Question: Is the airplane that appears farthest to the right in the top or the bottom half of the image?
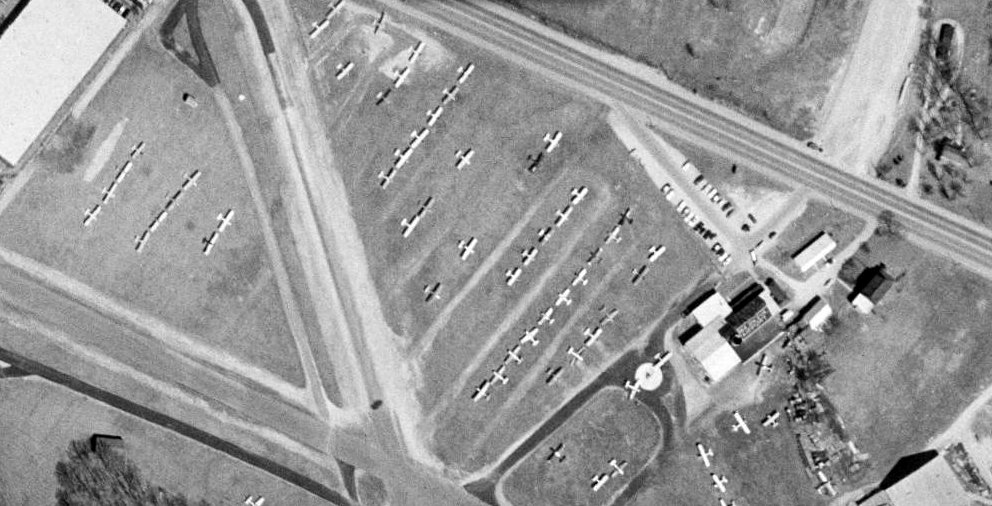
bottom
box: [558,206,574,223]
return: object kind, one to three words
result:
airplane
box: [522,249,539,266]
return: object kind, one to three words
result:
airplane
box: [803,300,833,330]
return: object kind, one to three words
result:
barn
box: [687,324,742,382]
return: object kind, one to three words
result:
hangar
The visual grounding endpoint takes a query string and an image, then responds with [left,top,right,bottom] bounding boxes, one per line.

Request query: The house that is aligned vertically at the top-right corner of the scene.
[938,25,953,58]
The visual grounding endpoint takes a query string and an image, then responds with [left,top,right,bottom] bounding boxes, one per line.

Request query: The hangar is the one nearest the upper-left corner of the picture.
[0,0,126,166]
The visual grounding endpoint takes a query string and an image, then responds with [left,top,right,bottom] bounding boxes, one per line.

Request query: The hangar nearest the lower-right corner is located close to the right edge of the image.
[887,456,972,506]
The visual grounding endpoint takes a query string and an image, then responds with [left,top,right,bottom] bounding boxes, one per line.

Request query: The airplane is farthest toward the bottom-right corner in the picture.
[815,473,837,496]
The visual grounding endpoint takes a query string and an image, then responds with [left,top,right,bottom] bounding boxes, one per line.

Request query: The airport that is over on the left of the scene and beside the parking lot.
[0,0,677,506]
